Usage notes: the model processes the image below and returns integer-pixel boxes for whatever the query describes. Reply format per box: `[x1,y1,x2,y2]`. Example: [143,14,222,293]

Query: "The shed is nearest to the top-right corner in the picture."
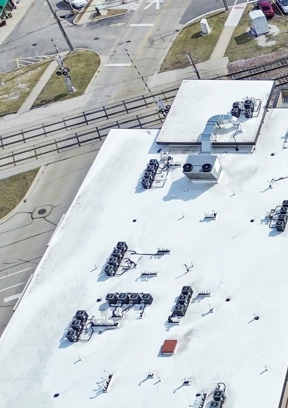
[247,6,274,35]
